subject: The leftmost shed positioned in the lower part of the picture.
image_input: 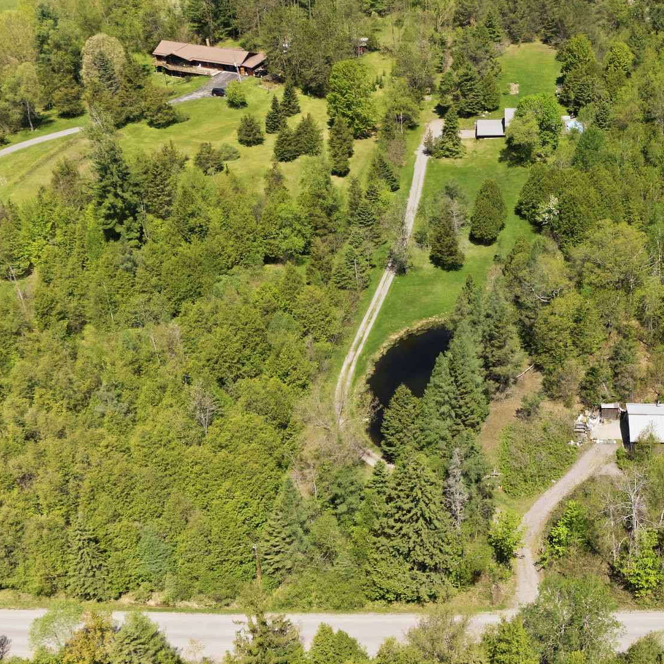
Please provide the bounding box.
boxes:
[600,400,622,419]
